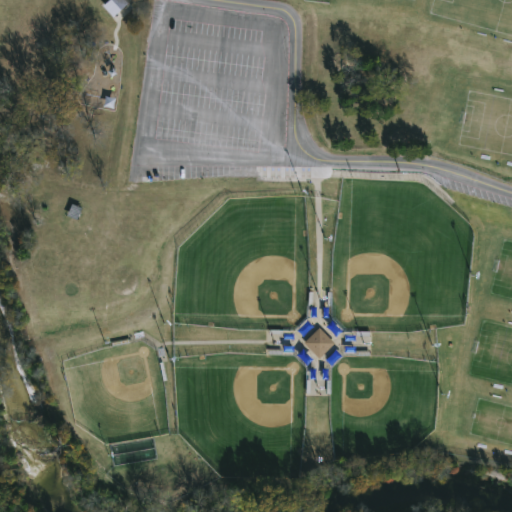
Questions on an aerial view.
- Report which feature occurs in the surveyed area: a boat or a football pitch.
football pitch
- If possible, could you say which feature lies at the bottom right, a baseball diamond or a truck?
baseball diamond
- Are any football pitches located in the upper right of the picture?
Yes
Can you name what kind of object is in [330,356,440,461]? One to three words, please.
baseball field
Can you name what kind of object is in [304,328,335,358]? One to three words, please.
building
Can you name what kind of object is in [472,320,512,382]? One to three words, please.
soccer field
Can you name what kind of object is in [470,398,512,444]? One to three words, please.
soccer field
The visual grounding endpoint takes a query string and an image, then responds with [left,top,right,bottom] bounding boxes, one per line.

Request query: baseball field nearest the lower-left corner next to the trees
[64,340,168,444]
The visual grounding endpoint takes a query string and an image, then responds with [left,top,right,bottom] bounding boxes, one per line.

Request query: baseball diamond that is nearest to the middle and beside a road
[174,197,309,330]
